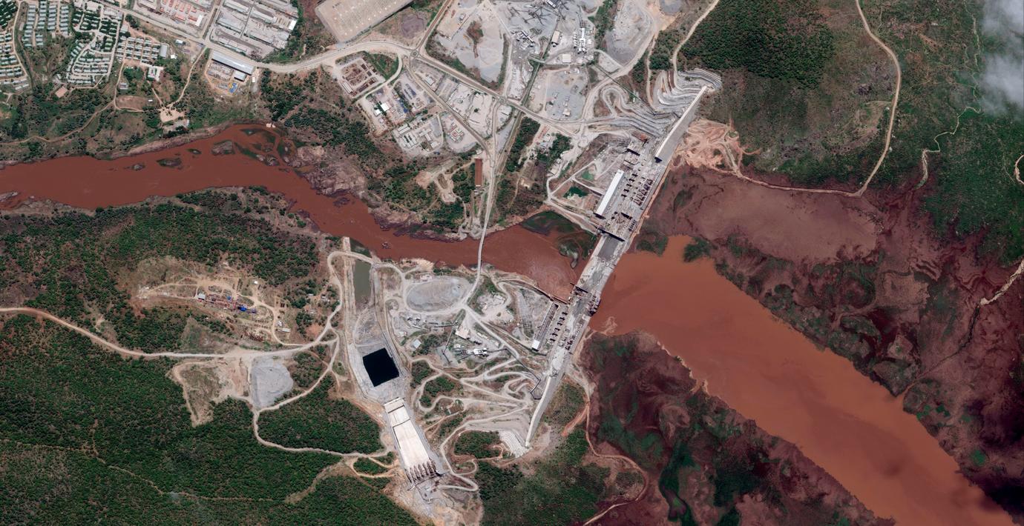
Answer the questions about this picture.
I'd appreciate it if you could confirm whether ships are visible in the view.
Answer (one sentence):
No, the picture doesn't show any ship.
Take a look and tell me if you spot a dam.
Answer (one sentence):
Yes, a dam appears in the view.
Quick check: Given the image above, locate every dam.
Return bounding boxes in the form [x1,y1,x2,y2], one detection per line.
[526,85,706,445]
